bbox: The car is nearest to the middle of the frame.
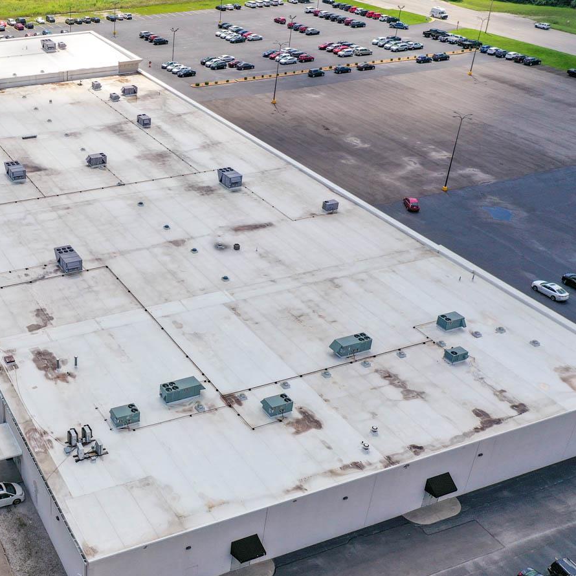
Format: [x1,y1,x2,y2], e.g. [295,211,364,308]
[402,196,423,211]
